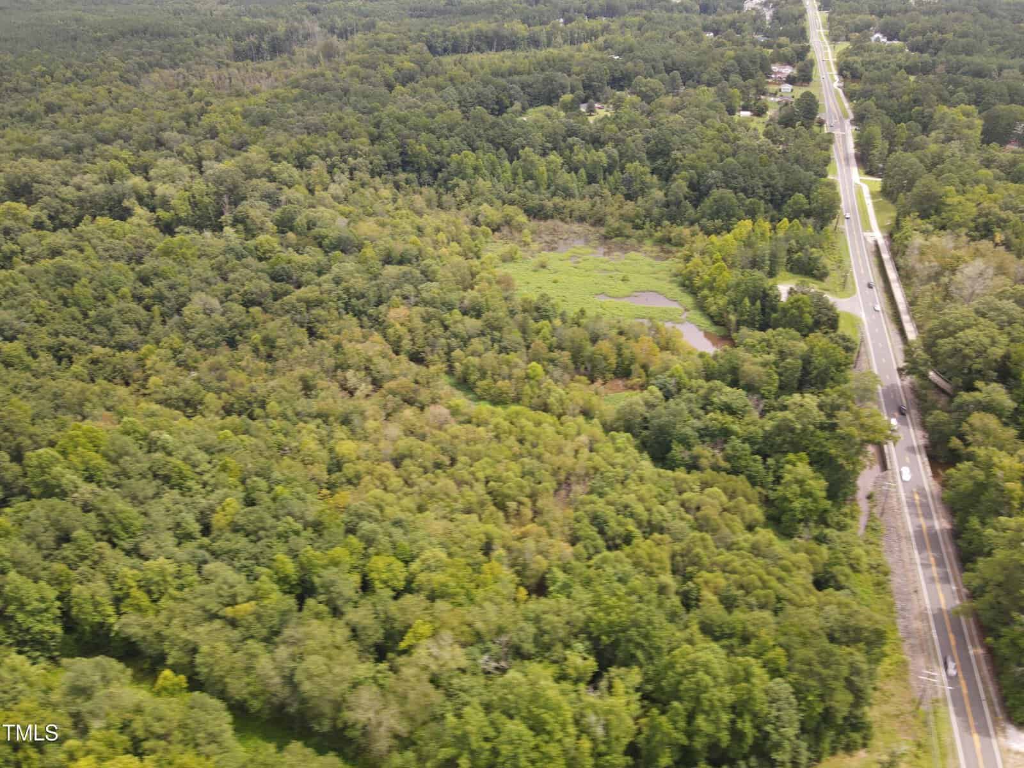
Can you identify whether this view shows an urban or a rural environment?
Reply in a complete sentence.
The area is rural.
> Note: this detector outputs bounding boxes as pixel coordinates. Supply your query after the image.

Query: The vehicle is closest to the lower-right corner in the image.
[943,654,959,677]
